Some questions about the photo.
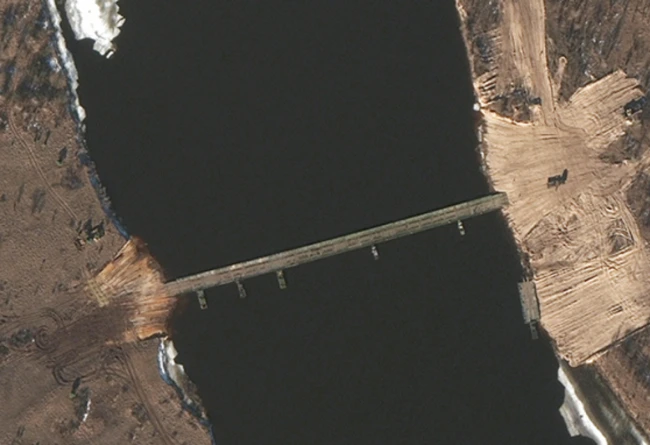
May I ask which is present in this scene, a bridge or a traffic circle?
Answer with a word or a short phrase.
bridge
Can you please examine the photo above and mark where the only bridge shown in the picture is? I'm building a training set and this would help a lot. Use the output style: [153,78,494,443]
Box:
[166,194,507,296]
